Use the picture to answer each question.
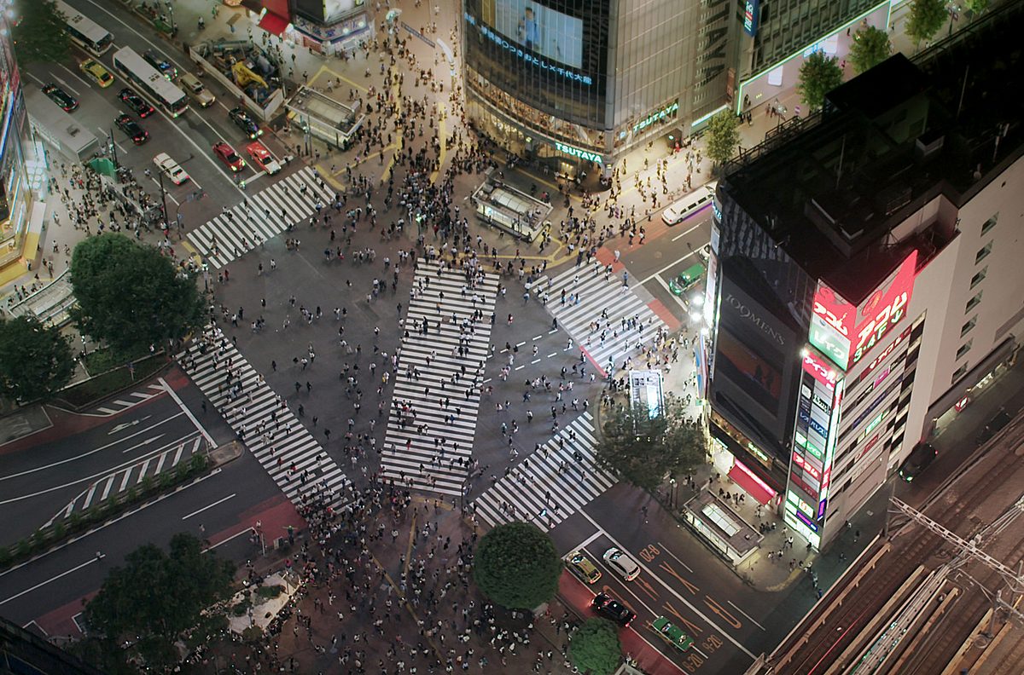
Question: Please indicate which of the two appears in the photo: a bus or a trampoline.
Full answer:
The image shows a bus.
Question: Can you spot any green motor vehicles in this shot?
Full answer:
Yes, looking at the shot, I can spot a green motor vehicle.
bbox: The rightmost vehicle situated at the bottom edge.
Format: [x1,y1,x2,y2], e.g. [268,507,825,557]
[648,614,697,651]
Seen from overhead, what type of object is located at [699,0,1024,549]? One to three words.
building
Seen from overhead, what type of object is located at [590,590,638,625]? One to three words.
car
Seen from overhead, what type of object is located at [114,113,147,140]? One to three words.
car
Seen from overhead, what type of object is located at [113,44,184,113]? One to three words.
bus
